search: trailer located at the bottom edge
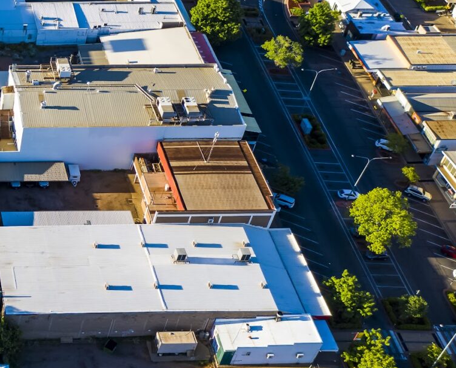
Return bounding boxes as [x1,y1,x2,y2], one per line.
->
[154,330,200,359]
